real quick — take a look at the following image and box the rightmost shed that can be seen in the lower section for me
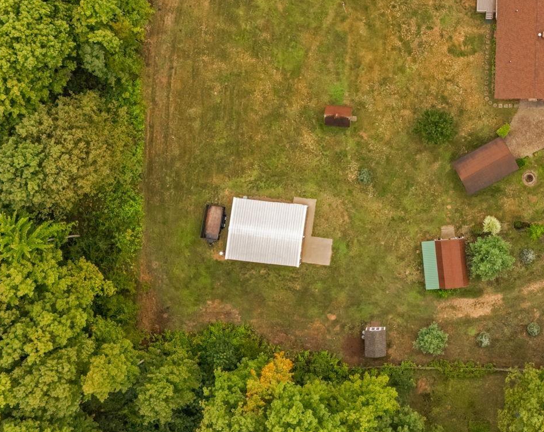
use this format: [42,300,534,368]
[435,234,469,289]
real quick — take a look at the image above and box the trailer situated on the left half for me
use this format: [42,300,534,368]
[201,203,224,245]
